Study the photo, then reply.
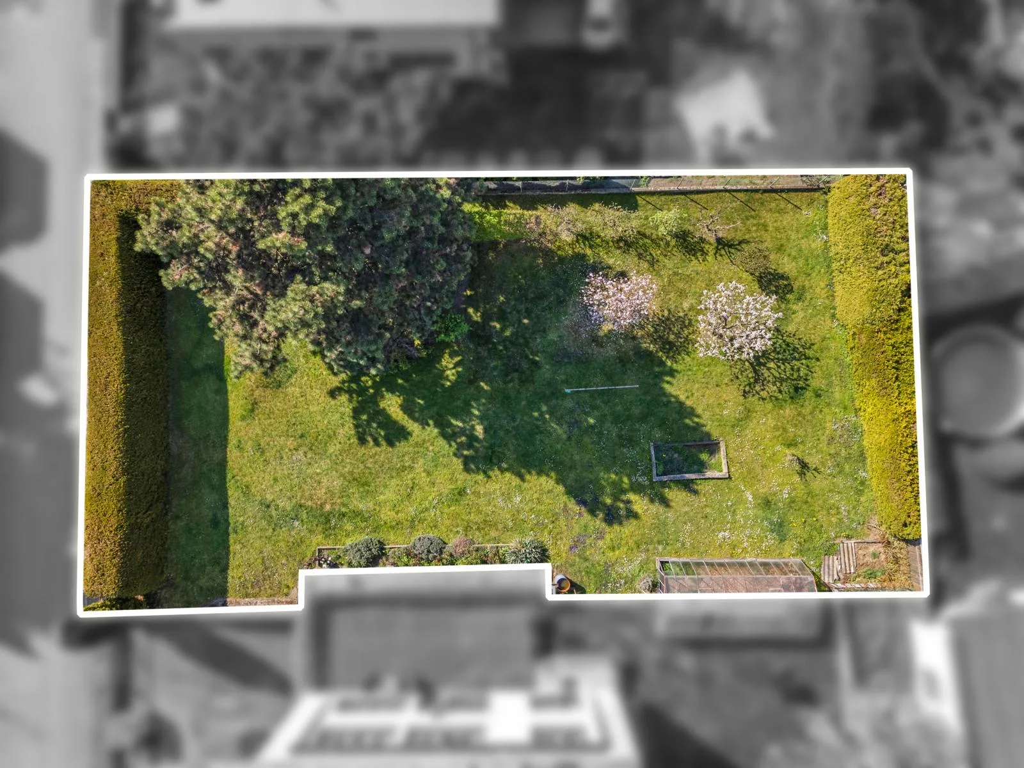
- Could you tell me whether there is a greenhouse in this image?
Yes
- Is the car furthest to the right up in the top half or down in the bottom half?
top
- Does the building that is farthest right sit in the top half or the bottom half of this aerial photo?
bottom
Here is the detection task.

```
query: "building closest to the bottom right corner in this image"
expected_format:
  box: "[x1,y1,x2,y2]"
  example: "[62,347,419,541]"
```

[916,600,1024,768]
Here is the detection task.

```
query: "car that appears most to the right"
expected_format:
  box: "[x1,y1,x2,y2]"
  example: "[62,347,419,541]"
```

[578,0,625,55]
